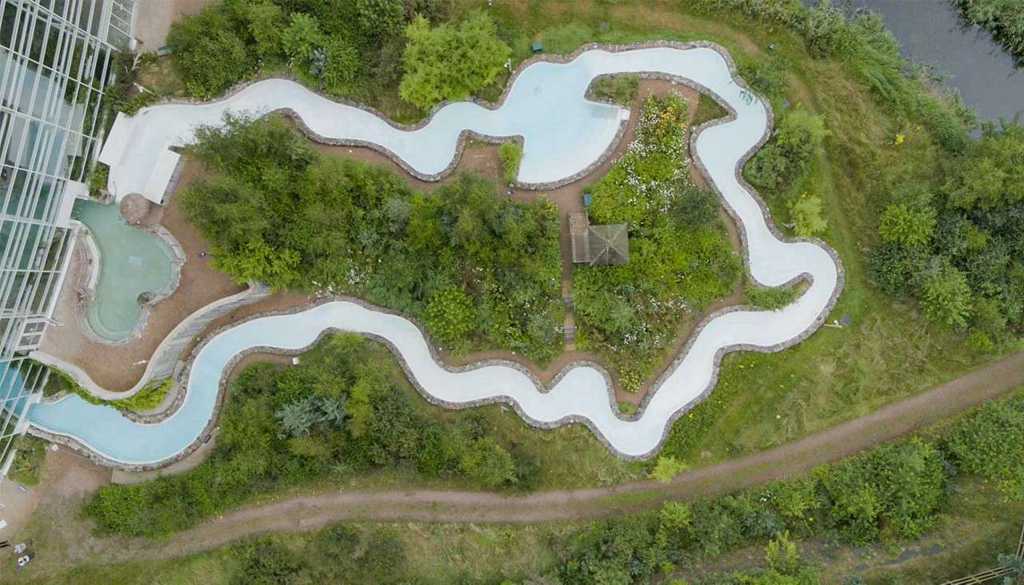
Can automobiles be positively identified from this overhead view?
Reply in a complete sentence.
No, no automobile is visible in the scene.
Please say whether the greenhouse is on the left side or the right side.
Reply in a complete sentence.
The greenhouse is on the left side of the image.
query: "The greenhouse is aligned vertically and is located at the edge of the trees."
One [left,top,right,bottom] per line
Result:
[0,0,157,508]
